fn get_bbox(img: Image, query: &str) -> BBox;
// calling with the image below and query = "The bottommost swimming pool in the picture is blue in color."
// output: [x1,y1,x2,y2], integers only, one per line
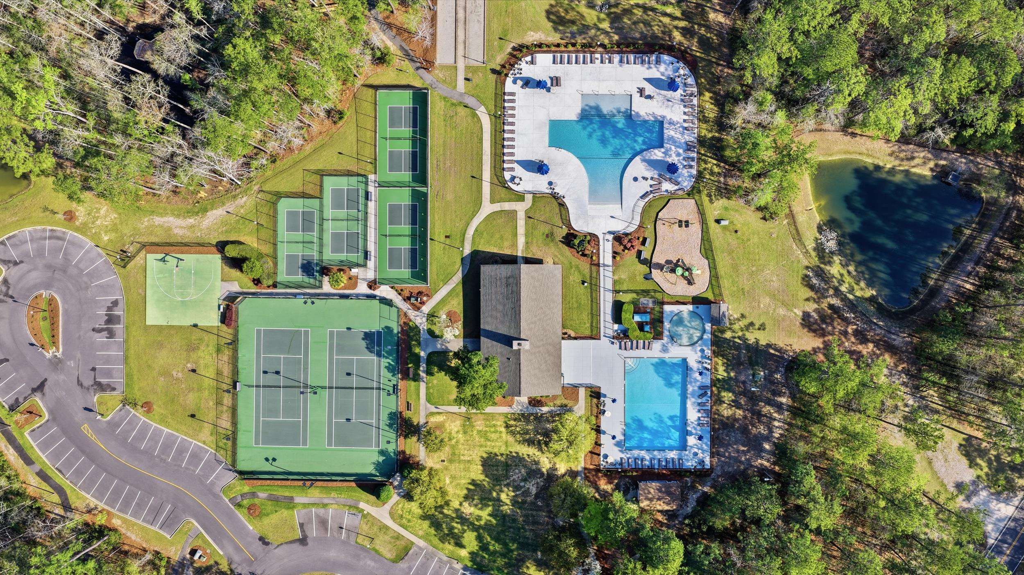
[618,354,689,452]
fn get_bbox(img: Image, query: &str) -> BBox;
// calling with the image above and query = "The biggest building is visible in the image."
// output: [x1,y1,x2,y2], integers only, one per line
[480,264,562,398]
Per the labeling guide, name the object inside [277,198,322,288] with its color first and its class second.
green sports court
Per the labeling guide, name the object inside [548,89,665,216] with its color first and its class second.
blue swimming pool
